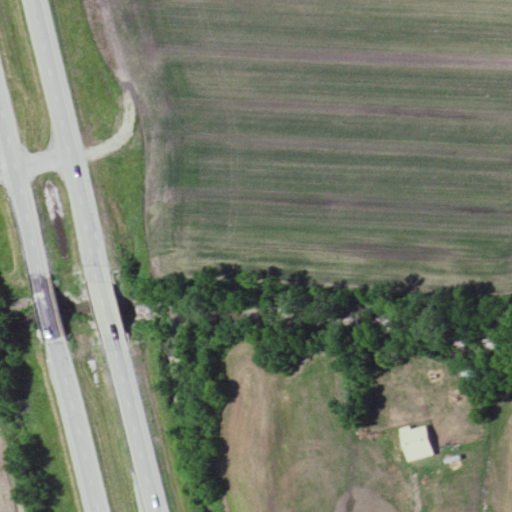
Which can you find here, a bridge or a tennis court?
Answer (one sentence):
The image shows a bridge.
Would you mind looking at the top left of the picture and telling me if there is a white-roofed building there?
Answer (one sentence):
No, no white-roofed building appears at the top left of the picture.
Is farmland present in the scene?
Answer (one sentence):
Yes, farmland can be seen from above here.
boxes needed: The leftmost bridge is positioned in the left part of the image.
[30,274,66,338]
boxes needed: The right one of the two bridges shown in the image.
[87,283,128,345]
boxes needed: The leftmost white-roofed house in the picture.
[400,424,434,463]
